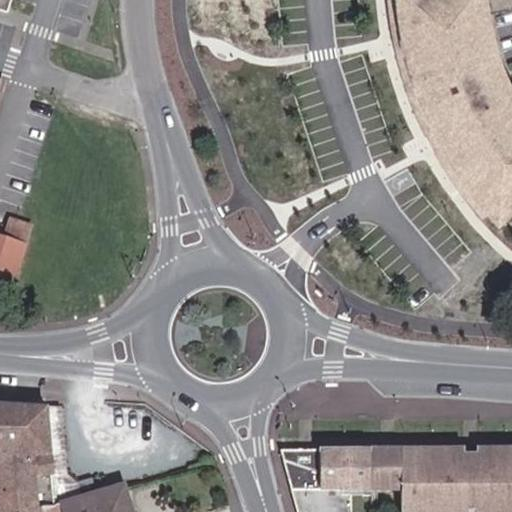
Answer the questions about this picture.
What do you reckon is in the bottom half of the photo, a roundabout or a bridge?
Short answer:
roundabout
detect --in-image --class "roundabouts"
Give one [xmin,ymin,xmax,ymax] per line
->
[134,250,304,420]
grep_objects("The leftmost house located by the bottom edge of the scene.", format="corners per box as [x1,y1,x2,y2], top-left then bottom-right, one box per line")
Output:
[0,403,54,512]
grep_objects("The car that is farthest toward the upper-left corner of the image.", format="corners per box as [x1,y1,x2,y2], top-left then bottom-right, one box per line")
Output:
[30,100,52,114]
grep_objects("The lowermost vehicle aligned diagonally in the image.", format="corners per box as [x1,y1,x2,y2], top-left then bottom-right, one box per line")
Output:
[178,392,199,412]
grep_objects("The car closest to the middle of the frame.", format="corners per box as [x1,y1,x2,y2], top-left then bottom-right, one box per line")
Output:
[308,220,328,238]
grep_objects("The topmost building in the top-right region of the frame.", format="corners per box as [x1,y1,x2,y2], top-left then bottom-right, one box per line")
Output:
[388,0,512,230]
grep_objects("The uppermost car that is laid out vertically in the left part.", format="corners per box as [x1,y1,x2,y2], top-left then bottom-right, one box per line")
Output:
[162,107,174,128]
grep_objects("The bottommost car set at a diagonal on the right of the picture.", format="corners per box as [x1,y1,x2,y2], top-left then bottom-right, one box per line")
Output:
[410,290,430,306]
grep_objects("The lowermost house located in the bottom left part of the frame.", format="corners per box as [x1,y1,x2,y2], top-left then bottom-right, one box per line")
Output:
[57,481,132,512]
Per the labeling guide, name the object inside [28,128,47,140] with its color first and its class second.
white vehicle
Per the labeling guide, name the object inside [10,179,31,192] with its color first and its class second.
white vehicle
